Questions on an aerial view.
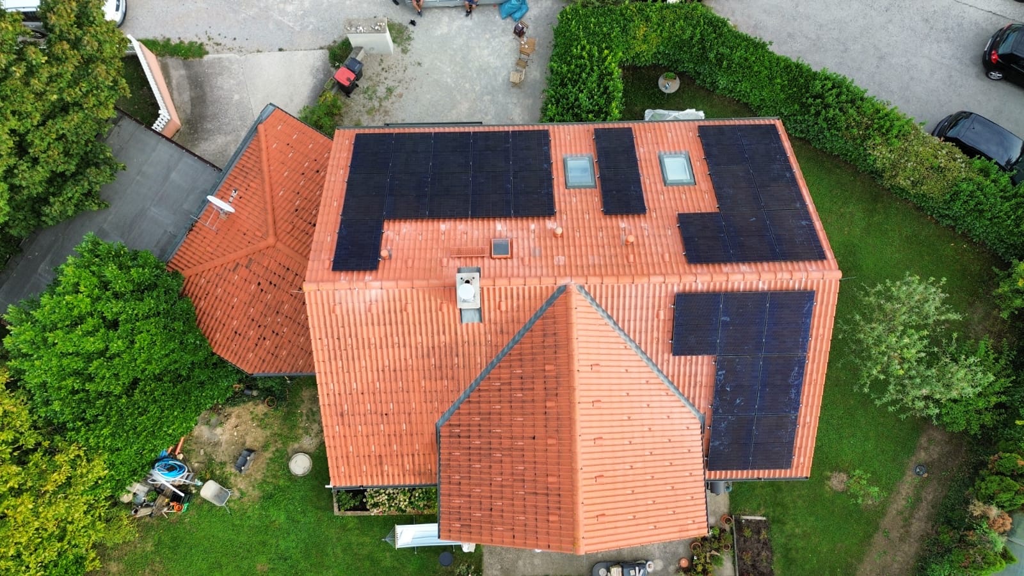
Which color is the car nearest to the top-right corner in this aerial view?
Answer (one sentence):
In this view, the car nearest to the top-right corner is black.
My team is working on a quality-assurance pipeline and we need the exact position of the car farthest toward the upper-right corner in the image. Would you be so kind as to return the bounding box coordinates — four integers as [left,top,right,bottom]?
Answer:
[980,22,1024,83]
